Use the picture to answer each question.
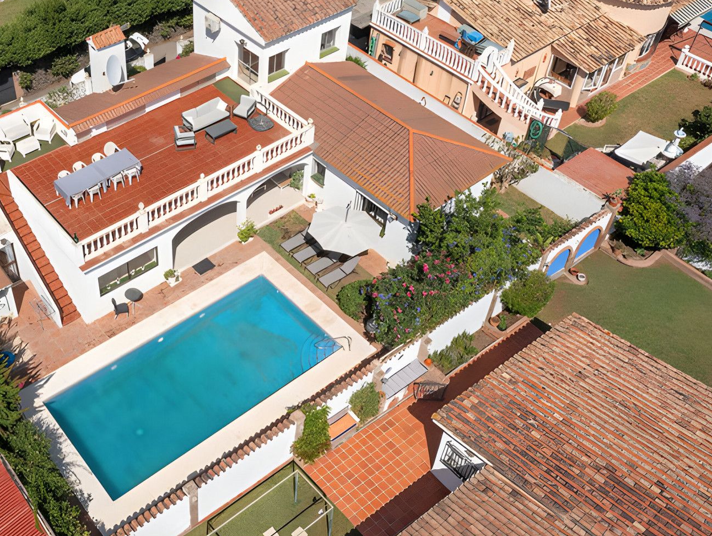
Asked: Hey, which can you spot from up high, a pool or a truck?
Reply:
pool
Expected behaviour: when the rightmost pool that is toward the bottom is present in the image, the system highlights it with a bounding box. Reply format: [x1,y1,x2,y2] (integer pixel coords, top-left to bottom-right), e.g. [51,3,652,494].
[43,274,341,500]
